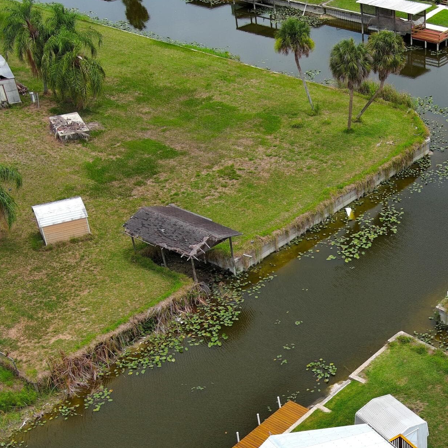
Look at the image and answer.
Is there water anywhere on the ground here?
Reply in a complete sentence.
Yes, some water is visible.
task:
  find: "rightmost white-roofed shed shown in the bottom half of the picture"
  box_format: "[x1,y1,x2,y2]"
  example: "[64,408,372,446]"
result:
[353,391,430,448]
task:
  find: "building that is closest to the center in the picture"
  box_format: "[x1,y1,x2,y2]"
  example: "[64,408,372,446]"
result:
[120,204,242,276]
